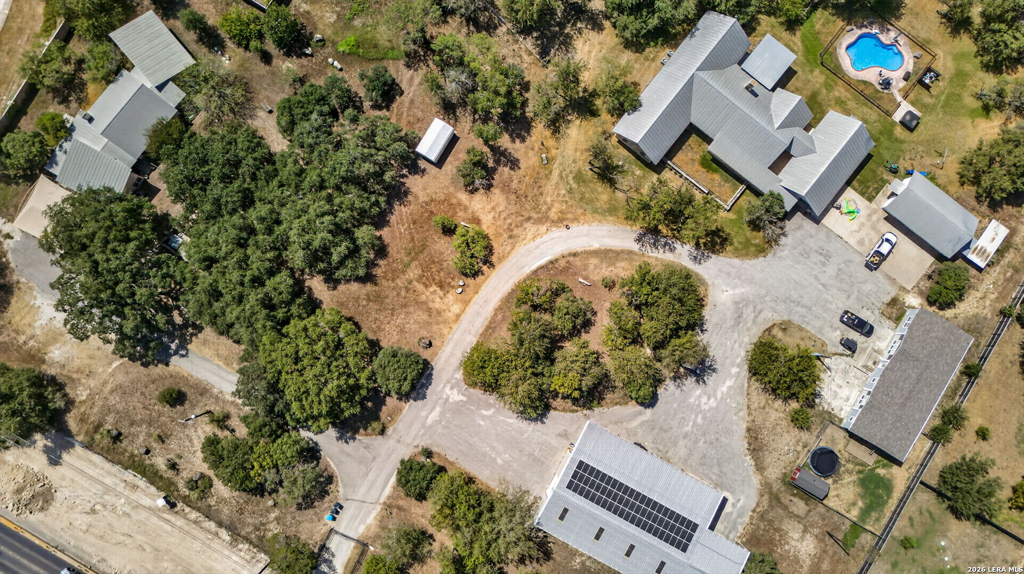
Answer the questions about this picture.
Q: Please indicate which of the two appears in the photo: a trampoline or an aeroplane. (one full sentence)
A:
There is a trampoline in the scene.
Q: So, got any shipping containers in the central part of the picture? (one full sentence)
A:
No, there is no shipping container in the central part of the picture.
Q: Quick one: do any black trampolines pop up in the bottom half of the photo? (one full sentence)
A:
Yes, a black trampoline can be seen in the bottom half of the photo.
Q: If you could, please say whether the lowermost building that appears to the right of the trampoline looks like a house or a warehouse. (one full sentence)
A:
The lowermost building that appears to the right of the trampoline in the image is a house.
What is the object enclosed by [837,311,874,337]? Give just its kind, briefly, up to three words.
truck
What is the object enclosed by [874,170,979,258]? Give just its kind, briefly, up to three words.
building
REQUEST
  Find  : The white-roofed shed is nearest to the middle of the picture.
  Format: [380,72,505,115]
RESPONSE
[416,118,454,164]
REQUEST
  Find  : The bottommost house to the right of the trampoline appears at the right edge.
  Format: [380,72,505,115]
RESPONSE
[841,307,974,462]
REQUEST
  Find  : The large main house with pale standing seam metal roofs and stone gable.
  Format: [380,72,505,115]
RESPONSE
[613,10,876,216]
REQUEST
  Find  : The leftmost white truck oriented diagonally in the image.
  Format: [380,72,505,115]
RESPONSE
[863,230,896,269]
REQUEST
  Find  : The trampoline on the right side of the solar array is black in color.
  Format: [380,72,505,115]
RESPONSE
[807,445,844,479]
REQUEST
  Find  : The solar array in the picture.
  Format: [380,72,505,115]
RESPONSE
[566,460,699,554]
